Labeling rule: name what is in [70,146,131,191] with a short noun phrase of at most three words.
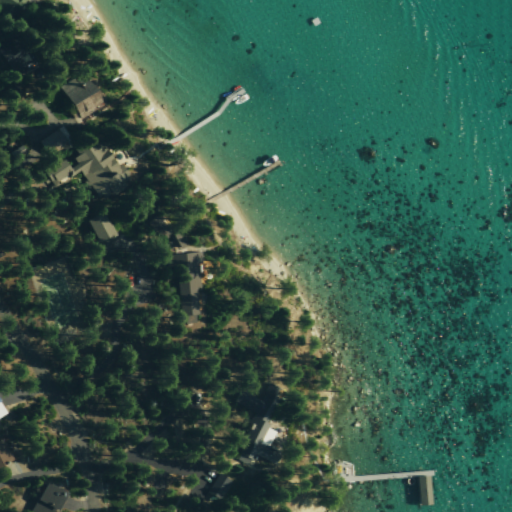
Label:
house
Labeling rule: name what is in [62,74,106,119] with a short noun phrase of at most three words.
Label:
house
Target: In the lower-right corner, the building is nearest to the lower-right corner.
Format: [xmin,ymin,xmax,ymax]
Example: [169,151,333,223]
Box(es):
[418,476,434,506]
